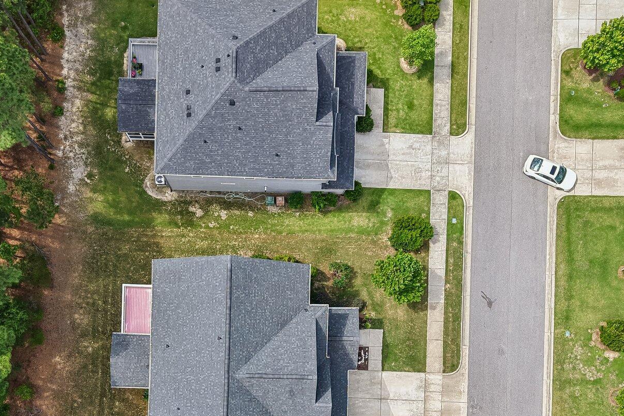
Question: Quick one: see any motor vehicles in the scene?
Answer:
Yes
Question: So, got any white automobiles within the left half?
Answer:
No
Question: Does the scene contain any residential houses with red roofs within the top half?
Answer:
No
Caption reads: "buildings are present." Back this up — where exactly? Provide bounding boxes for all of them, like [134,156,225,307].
[110,255,359,416]
[116,0,368,194]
